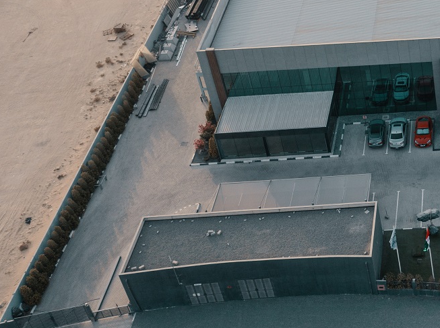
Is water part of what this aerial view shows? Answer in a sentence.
No, there is no water in the image.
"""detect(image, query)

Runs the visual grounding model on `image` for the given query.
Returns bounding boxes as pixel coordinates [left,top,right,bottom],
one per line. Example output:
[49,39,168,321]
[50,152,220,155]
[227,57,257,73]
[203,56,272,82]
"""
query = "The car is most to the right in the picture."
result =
[413,114,432,144]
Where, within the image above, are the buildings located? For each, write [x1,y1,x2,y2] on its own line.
[120,202,382,313]
[196,0,440,160]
